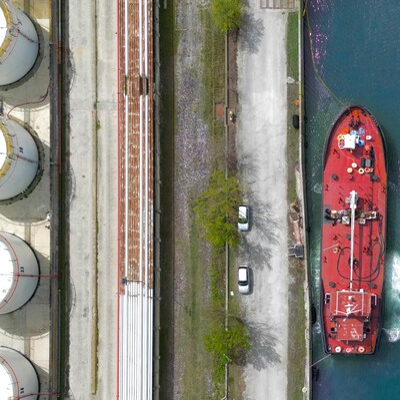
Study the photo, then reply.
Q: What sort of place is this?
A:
industrial area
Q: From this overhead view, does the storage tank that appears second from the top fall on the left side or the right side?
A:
left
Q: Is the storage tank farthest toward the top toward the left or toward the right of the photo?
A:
left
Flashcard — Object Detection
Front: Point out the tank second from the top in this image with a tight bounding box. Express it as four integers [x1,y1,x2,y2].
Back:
[0,112,59,205]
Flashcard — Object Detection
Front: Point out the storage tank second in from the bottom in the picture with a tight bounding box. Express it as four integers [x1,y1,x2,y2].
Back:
[0,229,59,315]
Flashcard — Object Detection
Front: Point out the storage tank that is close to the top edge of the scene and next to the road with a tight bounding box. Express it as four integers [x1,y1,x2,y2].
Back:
[0,0,59,90]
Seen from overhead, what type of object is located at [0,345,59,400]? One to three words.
storage tank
